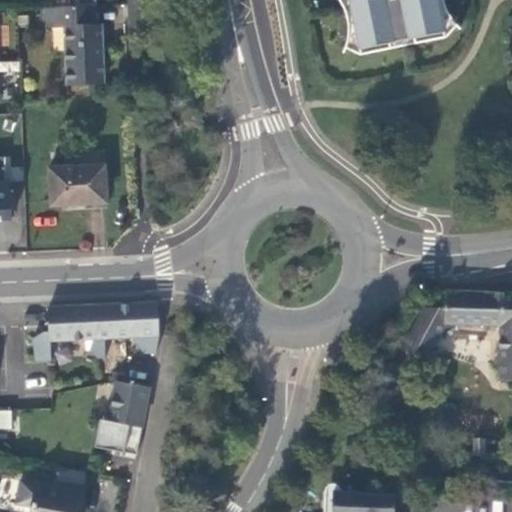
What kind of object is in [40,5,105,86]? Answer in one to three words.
house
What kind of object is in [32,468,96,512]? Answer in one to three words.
house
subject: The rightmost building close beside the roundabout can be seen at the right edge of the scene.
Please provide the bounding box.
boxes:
[404,290,512,352]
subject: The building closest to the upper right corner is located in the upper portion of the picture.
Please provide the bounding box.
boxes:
[340,0,463,54]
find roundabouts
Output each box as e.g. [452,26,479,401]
[205,168,384,347]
